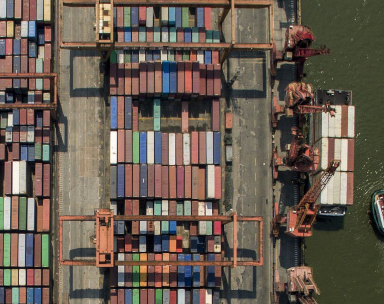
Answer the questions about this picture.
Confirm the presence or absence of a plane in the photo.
No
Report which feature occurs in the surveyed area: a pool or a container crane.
container crane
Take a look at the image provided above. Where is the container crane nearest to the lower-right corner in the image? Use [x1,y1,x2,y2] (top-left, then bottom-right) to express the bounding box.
[273,266,321,304]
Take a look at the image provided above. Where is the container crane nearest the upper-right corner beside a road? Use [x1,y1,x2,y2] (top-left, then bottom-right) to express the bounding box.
[273,18,335,77]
